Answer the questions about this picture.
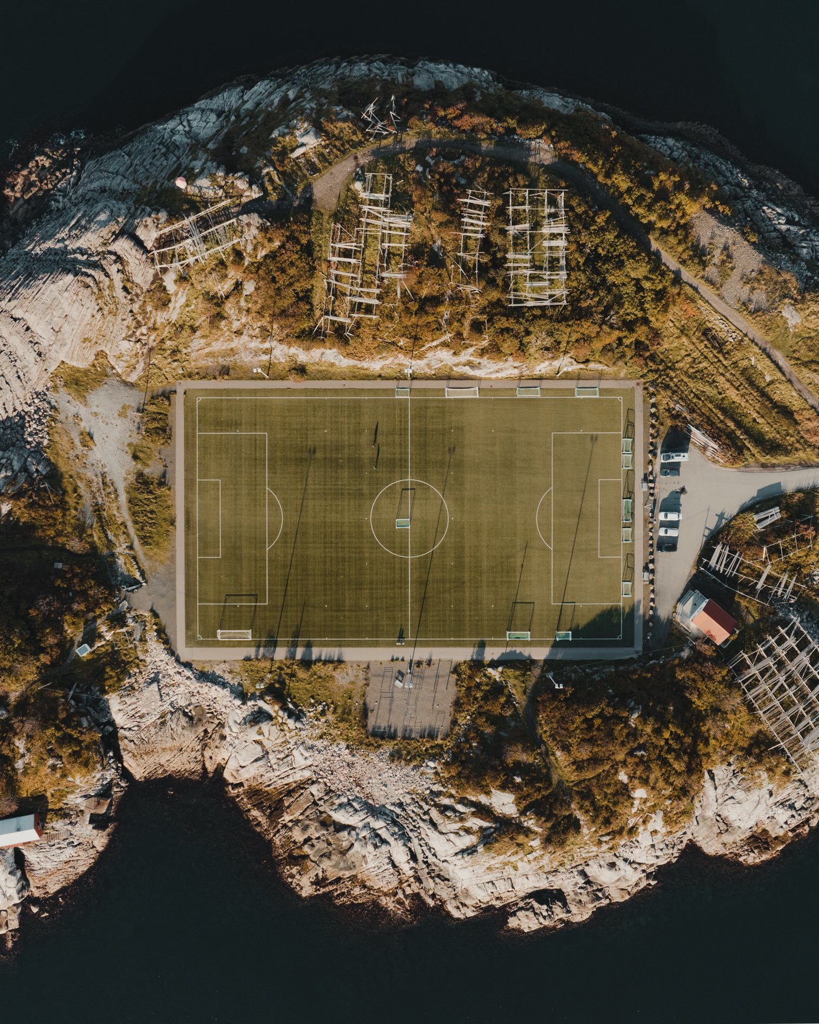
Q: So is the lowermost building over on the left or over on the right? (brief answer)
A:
left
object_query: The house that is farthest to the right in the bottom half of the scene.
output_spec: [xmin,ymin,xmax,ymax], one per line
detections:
[690,598,737,646]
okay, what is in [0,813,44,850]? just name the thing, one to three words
building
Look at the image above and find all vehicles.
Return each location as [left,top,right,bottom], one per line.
[660,528,679,536]
[662,451,690,462]
[658,543,678,552]
[660,512,682,521]
[661,468,681,477]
